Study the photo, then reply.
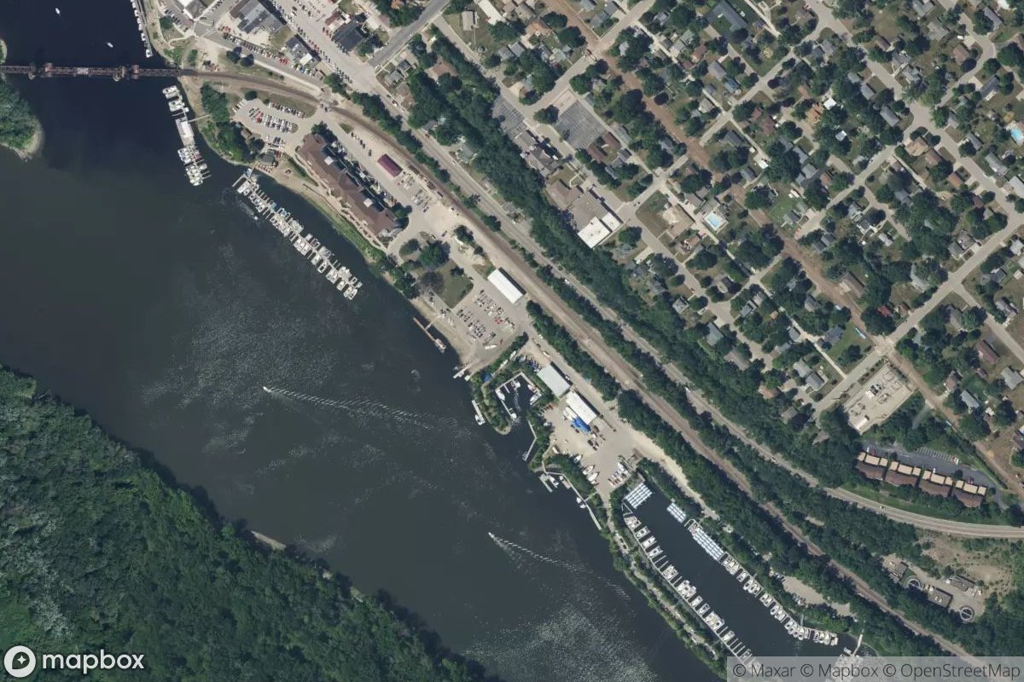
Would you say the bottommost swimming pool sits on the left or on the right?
right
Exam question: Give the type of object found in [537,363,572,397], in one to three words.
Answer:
shed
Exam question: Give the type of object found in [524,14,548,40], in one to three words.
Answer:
house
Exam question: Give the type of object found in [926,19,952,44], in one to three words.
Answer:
house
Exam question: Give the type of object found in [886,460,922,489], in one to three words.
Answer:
building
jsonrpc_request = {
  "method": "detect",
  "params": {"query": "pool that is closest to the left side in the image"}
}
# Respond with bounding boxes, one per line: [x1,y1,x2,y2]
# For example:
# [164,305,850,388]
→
[702,210,730,231]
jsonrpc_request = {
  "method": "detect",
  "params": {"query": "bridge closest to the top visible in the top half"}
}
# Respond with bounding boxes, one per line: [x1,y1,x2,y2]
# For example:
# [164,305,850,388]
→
[0,61,184,83]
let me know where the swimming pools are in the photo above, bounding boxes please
[702,210,730,231]
[1005,120,1024,149]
